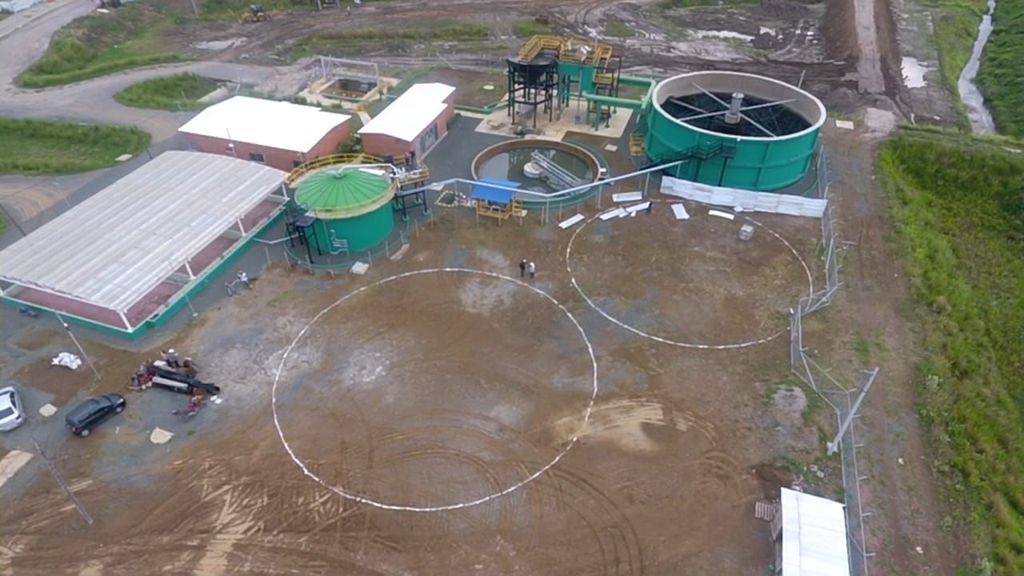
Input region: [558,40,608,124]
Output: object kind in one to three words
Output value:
storage tank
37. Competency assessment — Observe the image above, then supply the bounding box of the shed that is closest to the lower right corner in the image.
[769,488,849,576]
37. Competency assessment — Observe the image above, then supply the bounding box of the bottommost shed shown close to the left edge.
[0,153,287,340]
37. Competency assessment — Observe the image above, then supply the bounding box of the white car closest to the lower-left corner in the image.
[0,384,23,429]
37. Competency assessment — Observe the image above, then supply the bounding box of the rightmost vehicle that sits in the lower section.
[59,389,125,435]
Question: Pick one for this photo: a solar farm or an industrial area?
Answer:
industrial area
